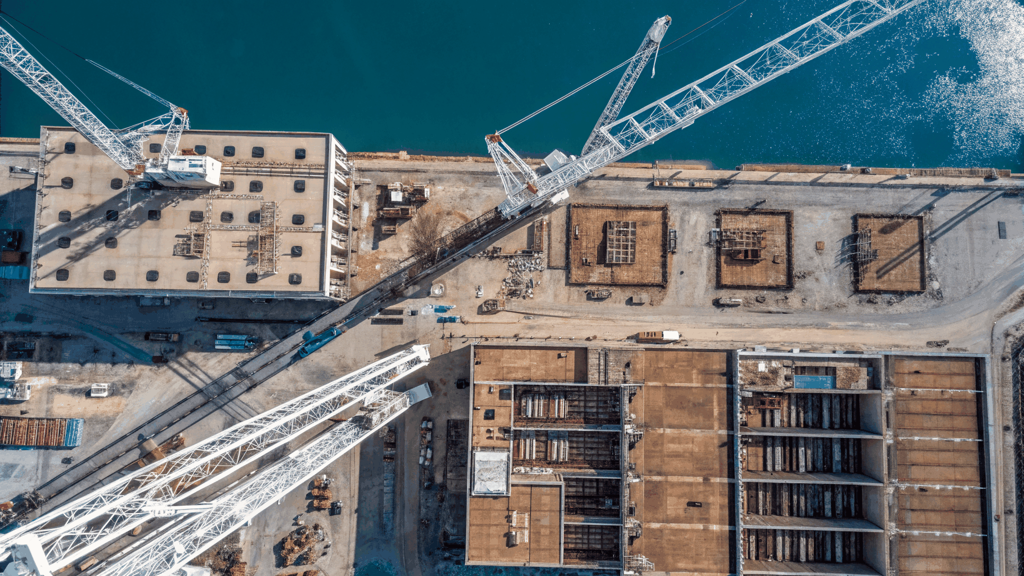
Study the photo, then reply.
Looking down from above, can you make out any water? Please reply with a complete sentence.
Yes, there's water in this view.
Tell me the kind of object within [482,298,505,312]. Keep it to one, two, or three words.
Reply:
vehicle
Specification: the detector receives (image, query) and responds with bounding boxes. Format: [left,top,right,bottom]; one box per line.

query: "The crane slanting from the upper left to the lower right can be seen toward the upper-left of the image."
[0,13,220,206]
